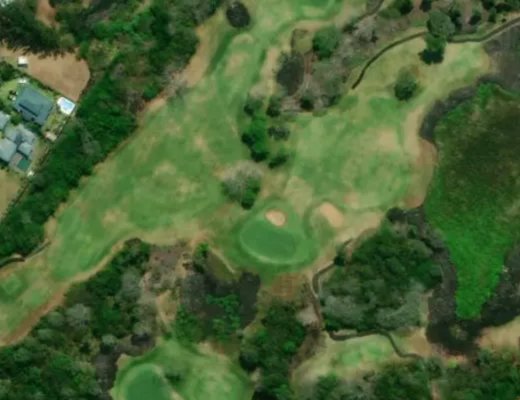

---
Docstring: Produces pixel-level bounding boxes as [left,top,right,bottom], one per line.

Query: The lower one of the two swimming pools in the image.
[10,152,31,172]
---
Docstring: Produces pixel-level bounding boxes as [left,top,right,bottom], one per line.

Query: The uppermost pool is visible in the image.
[57,96,75,114]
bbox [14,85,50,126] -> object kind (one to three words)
house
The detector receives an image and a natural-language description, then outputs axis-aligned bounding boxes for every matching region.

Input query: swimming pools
[10,152,31,172]
[57,96,75,114]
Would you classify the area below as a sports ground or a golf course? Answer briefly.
golf course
